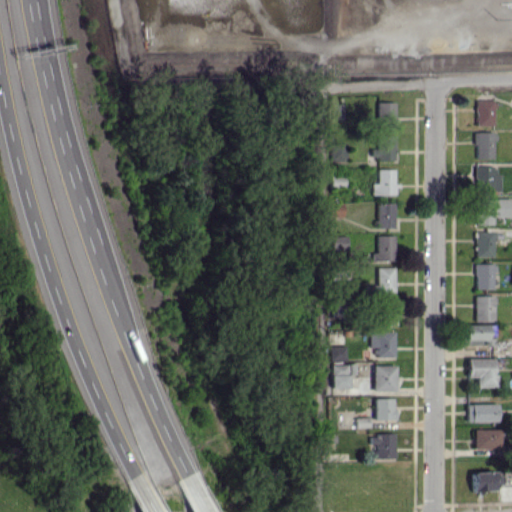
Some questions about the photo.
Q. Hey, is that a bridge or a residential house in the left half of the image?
bridge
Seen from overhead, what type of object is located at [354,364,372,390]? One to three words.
building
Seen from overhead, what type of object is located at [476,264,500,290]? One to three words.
house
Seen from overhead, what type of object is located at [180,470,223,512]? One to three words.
bridge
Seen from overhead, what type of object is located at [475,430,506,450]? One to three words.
house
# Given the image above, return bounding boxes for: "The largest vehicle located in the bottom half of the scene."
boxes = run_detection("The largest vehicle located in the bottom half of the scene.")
[129,330,148,364]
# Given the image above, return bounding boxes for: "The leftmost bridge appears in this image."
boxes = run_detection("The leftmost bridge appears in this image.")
[128,472,171,512]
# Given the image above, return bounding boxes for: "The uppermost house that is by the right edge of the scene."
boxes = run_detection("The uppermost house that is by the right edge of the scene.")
[475,100,496,126]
